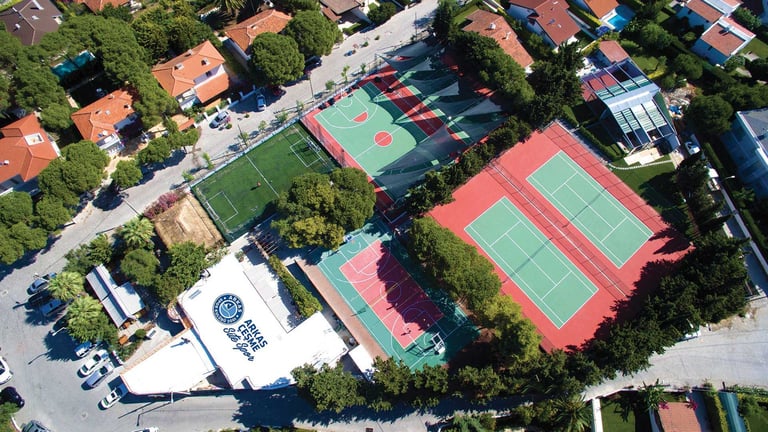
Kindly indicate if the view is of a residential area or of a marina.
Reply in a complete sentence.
What you see here is a residential area.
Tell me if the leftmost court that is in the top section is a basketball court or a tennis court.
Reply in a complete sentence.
It looks like the leftmost court that is in the top section is a basketball court.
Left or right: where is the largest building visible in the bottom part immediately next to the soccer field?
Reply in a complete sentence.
The largest building visible in the bottom part immediately next to the soccer field is on the left side of the image.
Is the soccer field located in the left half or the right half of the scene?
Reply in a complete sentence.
The soccer field appears in the left half of the scene.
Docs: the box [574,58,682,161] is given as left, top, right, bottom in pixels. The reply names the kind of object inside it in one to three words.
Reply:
house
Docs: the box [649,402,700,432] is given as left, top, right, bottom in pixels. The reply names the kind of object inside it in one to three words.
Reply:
house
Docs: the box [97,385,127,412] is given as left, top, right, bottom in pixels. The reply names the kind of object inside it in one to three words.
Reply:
car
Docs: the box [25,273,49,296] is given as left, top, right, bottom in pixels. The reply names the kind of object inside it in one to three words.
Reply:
car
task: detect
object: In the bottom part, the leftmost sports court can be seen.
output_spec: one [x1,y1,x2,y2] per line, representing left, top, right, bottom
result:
[307,209,478,388]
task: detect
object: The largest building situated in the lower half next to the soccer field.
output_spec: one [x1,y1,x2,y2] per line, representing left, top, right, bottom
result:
[119,253,348,396]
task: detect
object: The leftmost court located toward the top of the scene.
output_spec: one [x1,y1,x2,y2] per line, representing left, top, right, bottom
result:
[302,40,510,214]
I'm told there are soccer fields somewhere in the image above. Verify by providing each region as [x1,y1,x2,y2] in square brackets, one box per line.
[189,119,338,236]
